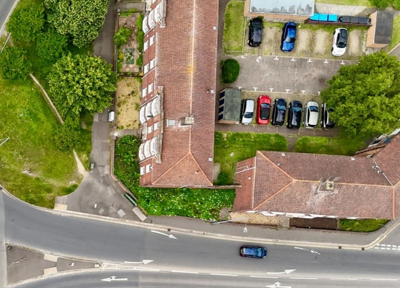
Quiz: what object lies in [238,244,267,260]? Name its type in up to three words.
car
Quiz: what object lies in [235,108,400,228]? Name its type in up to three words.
house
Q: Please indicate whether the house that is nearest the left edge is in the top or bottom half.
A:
top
